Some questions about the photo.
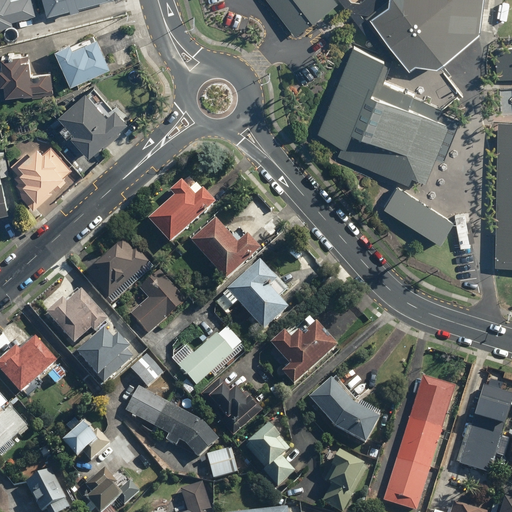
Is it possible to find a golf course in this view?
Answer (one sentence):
No, there's no golf course here.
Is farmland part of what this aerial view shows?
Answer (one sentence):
No, the picture contains no farmland.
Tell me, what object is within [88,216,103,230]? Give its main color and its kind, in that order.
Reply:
white vehicle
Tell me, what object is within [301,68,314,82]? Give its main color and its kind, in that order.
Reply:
gray vehicle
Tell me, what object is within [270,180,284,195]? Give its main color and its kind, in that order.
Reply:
white car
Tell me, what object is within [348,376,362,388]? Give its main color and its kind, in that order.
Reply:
white vehicle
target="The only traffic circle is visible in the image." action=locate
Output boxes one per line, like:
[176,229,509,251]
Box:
[196,78,238,118]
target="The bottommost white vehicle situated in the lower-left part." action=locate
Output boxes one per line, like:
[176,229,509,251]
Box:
[98,447,112,461]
